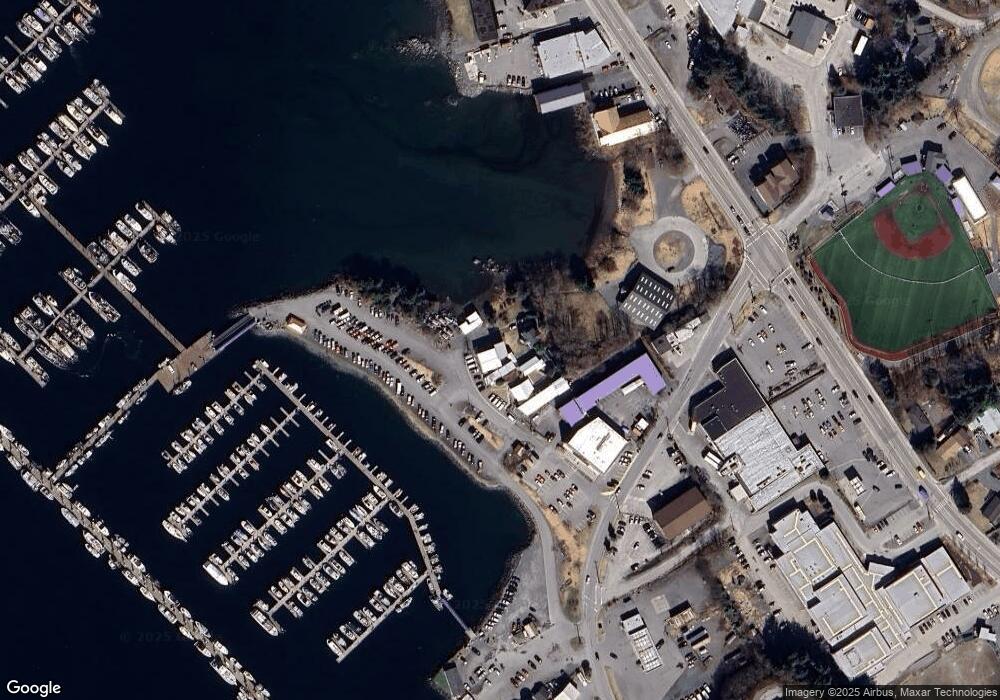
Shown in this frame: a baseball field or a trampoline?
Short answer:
baseball field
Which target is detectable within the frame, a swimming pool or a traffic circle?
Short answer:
traffic circle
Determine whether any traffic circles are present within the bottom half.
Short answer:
No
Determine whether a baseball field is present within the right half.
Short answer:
Yes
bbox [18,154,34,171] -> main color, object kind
gray boat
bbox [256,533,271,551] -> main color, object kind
gray boat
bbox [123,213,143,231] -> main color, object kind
white boat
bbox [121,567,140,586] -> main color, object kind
white boat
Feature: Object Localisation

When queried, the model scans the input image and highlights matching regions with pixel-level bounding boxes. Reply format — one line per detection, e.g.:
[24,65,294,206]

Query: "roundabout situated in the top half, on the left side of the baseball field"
[632,216,709,278]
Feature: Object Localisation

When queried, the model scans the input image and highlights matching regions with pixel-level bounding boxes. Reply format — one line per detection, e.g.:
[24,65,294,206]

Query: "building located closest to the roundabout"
[619,273,675,330]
